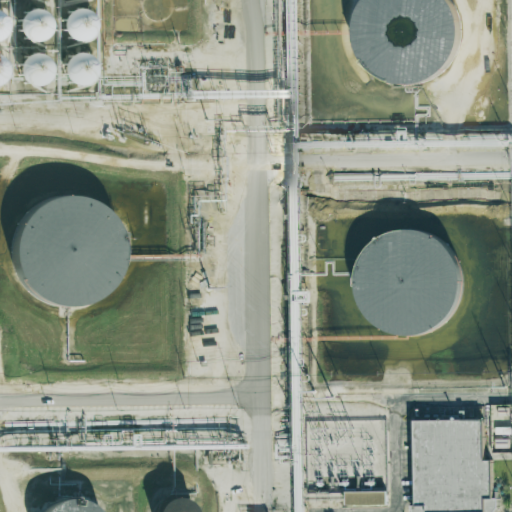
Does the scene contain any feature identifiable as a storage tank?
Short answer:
Yes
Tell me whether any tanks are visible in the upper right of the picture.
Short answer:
Yes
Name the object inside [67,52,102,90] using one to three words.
storage tank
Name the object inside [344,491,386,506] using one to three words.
shed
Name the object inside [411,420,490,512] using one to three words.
building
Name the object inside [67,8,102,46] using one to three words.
storage tank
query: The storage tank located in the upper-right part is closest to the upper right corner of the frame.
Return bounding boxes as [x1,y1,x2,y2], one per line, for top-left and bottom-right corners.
[350,0,461,88]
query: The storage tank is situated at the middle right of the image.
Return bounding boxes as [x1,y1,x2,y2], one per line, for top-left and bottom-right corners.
[354,228,462,336]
